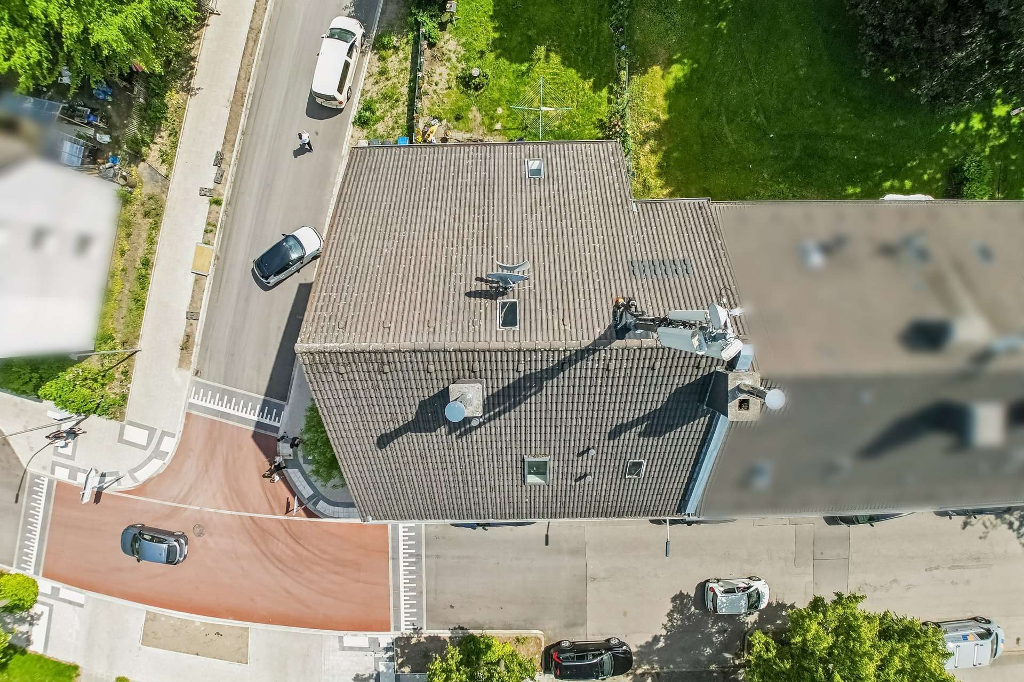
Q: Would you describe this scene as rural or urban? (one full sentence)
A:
The land in this view is best described as urban.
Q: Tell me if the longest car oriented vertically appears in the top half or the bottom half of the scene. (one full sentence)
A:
The longest car oriented vertically is in the top half of the image.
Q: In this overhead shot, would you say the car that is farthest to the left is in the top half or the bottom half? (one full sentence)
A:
The car that is farthest to the left sits in the bottom half of the picture.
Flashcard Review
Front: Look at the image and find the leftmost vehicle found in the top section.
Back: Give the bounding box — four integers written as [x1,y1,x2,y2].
[254,232,322,289]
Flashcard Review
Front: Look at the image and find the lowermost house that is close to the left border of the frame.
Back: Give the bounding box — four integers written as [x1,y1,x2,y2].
[0,147,117,357]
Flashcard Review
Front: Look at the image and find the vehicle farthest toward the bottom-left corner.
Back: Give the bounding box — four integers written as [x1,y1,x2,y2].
[118,526,189,566]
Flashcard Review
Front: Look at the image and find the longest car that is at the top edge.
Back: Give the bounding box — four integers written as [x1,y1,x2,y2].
[311,16,363,105]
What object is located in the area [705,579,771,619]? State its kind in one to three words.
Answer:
car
